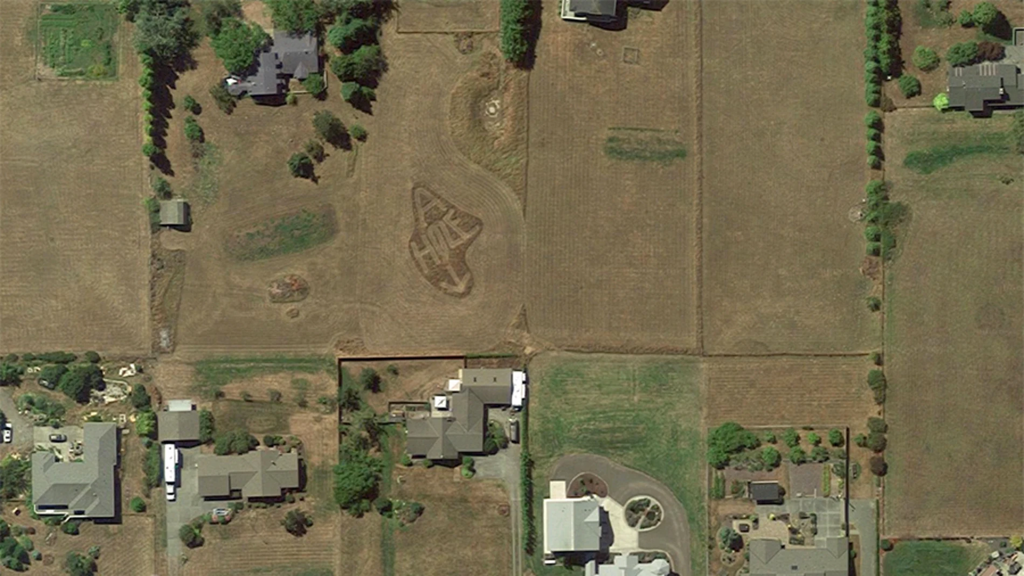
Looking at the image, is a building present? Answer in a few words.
Yes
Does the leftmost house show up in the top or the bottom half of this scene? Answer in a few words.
bottom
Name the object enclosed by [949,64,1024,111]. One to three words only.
house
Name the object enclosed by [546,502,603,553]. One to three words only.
barn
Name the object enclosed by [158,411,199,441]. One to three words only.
building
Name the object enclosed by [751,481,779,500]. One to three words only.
shed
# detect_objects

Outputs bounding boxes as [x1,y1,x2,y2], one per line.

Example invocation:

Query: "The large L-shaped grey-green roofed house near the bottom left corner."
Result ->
[31,422,116,522]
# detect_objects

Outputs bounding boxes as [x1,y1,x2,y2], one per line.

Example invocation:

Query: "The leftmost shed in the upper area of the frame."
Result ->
[159,200,185,225]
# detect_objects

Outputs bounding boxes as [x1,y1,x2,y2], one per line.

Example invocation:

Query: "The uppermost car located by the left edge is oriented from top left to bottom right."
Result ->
[38,377,54,391]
